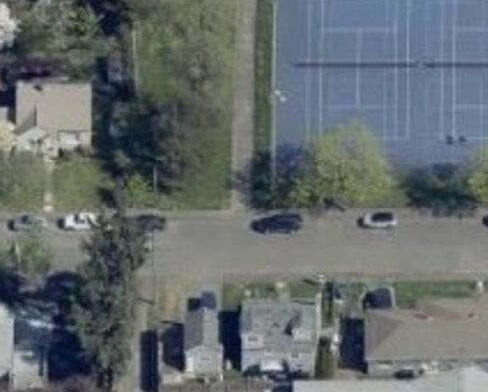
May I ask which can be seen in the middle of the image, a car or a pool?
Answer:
car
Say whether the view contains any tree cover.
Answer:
Yes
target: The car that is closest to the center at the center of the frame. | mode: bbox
[254,214,300,235]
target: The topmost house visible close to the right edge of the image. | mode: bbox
[366,299,488,376]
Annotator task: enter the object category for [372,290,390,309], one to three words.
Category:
vehicle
